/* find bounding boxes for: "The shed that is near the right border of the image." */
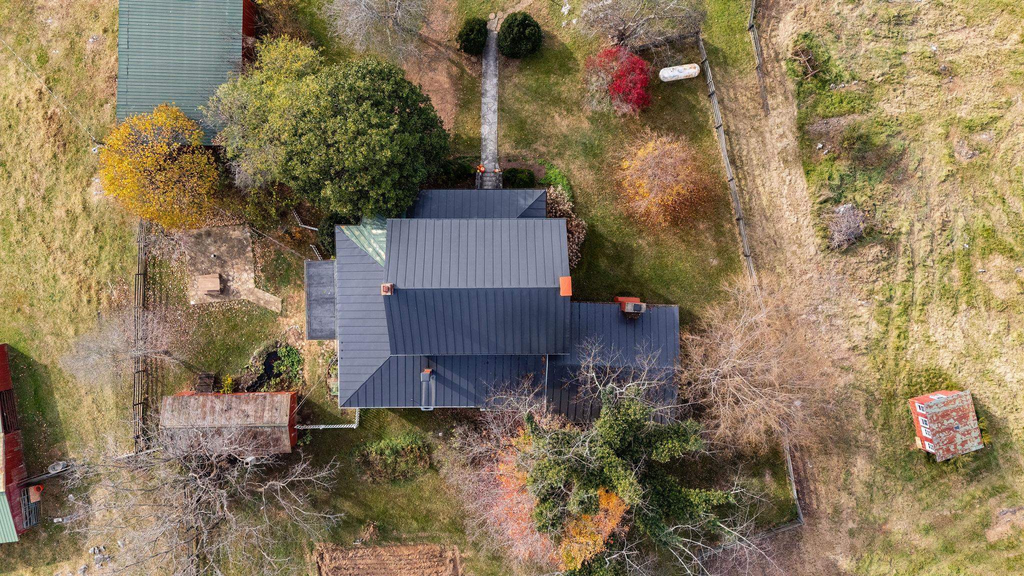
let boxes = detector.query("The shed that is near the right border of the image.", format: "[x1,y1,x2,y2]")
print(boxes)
[905,389,984,461]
